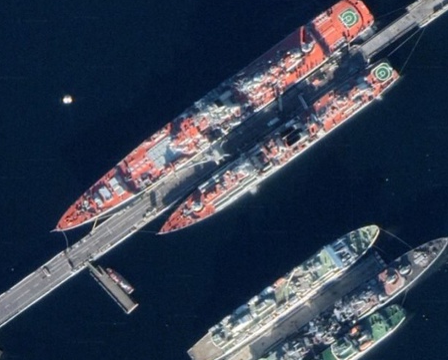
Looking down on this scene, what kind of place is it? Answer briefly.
port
